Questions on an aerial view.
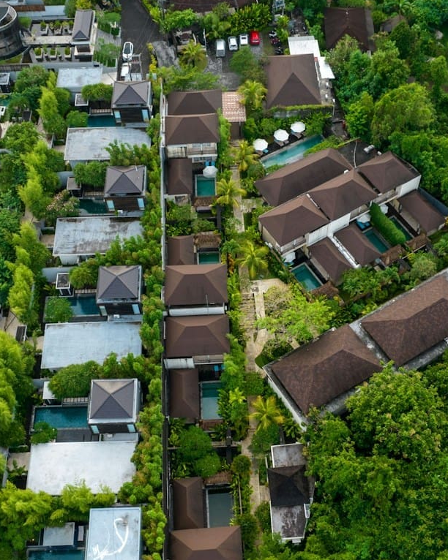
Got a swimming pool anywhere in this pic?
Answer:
Yes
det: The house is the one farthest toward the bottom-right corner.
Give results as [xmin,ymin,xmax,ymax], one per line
[266,443,313,547]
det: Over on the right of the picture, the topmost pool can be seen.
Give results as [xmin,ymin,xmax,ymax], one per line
[264,134,323,168]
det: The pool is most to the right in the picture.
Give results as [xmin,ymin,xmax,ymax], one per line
[391,215,414,241]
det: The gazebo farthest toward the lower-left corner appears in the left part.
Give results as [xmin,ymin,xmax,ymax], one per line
[43,523,77,550]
